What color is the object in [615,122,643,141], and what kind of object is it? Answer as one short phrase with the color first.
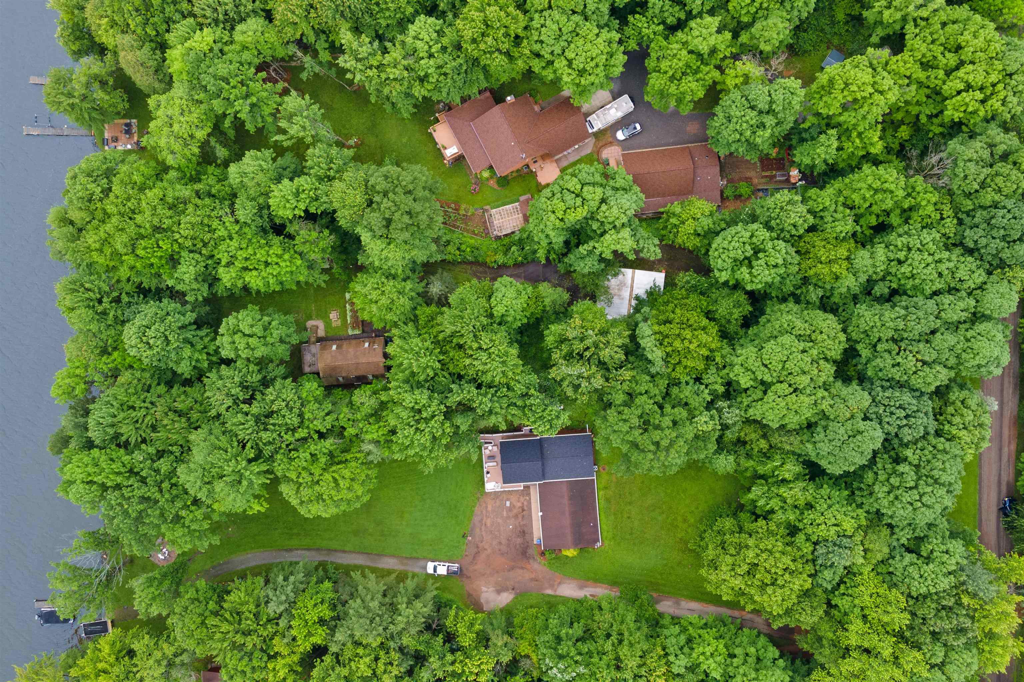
white car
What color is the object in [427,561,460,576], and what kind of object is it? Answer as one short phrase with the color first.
white vehicle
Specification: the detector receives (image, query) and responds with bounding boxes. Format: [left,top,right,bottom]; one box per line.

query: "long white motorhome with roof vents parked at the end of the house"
[586,95,636,134]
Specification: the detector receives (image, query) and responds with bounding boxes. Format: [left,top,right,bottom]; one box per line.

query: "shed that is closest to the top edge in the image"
[818,52,845,77]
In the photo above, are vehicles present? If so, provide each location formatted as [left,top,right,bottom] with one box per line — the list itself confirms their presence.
[427,561,460,576]
[586,95,636,134]
[615,122,643,141]
[999,495,1018,520]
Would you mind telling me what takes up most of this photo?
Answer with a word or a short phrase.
trees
